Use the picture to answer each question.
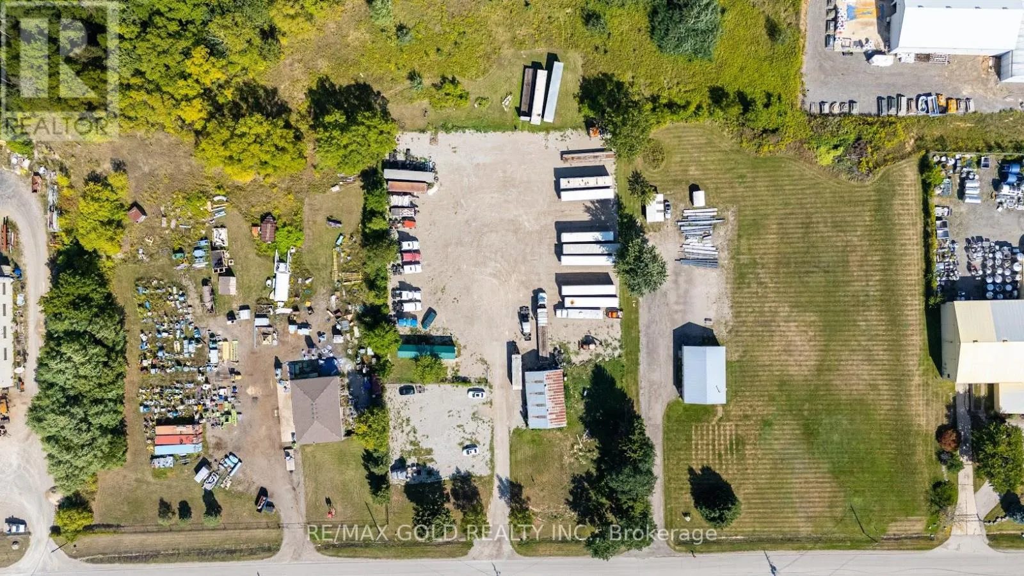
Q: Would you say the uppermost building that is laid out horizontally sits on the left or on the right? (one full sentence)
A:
You can find the uppermost building that is laid out horizontally on the right side of the picture.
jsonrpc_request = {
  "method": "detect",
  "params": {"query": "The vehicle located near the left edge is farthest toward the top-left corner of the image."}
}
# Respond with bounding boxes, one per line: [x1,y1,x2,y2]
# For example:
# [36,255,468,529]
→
[32,175,45,193]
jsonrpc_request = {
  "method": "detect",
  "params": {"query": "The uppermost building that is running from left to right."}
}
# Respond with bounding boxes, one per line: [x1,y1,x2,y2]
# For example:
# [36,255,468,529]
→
[891,0,1022,54]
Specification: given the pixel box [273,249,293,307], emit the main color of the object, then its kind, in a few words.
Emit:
white vehicle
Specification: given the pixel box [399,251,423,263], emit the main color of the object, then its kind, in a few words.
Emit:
red vehicle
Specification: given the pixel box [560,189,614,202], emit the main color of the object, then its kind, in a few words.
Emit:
white vehicle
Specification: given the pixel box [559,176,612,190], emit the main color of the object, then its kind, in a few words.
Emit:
white trailer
